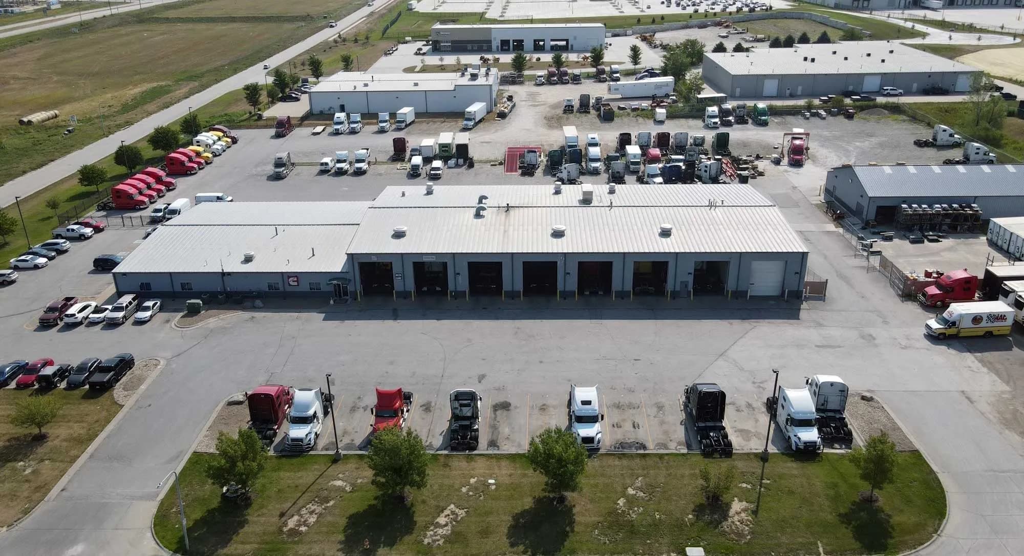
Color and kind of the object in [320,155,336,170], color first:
white vehicle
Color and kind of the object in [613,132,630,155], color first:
black vehicle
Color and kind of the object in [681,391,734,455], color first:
black truck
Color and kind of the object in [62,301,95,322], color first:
white car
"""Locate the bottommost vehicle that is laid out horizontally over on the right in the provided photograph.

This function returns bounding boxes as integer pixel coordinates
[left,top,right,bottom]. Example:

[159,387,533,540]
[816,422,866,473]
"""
[922,297,1020,341]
